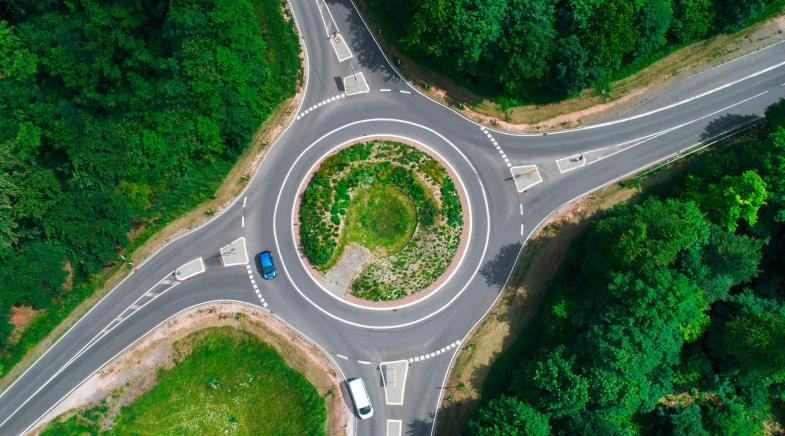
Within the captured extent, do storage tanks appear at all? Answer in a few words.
No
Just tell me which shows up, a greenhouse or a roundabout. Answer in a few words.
roundabout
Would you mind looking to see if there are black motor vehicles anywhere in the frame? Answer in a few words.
No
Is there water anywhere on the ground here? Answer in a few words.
No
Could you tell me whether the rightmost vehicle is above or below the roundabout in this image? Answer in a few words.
below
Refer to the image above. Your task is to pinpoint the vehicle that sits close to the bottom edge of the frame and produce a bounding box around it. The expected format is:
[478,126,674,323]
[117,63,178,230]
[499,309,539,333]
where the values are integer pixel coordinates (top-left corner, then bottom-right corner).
[349,377,373,421]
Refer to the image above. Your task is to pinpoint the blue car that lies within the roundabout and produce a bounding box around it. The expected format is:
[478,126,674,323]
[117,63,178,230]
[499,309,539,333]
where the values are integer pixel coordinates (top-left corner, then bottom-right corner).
[259,249,276,279]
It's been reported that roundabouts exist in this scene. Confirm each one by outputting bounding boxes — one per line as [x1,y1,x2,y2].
[242,58,521,362]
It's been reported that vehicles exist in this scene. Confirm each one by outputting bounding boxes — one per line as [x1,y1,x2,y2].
[259,249,276,279]
[349,377,373,421]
